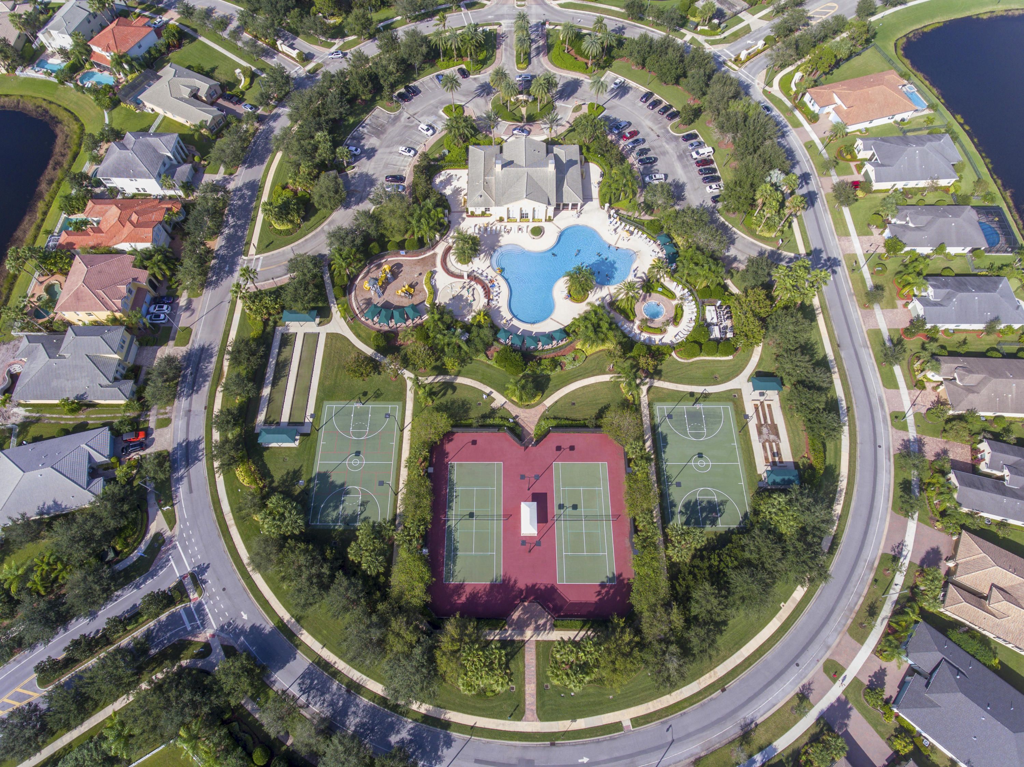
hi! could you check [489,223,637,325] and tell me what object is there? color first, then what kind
blue swimming pool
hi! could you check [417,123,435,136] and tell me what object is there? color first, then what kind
white vehicle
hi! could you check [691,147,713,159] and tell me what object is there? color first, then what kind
white vehicle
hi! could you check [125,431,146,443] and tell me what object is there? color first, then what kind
red vehicle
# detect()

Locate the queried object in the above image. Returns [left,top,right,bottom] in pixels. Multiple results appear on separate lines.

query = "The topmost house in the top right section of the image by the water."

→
[802,70,924,133]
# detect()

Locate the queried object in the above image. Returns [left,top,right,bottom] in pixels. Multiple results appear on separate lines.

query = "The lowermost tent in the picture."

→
[521,502,537,536]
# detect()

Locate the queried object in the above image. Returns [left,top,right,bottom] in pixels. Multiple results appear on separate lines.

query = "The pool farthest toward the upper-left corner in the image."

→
[35,58,64,71]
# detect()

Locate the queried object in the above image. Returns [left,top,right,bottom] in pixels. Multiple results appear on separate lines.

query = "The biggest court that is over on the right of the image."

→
[653,402,755,531]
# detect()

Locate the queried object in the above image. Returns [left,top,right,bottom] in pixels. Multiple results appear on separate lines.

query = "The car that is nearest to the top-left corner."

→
[151,13,167,28]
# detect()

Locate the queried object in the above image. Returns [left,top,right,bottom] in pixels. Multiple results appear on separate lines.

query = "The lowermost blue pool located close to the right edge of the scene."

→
[978,220,1001,246]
